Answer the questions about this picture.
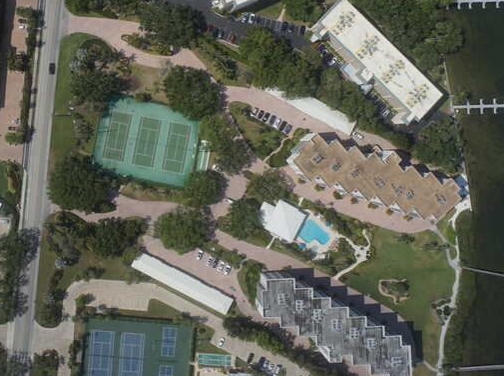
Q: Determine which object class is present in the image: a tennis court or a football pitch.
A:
tennis court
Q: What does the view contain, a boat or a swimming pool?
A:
swimming pool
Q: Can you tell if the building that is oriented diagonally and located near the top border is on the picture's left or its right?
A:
right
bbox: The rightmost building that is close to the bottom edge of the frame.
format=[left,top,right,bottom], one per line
[257,271,413,376]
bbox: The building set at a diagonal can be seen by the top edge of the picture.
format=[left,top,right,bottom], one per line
[306,0,442,121]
